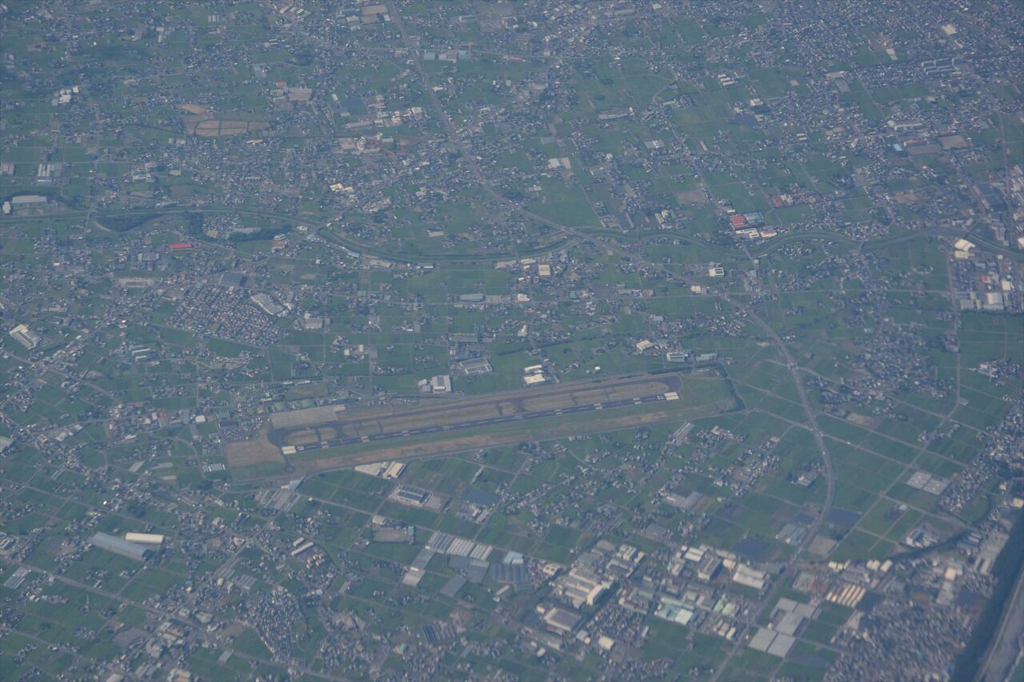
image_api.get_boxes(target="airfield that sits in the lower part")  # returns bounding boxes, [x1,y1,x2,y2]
[225,366,744,480]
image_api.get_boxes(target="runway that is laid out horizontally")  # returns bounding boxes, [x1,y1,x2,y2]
[279,390,682,454]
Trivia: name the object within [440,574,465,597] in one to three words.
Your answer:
greenhouse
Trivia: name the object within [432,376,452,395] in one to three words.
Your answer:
building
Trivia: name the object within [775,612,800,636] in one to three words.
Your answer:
greenhouse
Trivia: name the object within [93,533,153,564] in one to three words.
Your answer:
building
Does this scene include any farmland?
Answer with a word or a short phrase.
Yes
